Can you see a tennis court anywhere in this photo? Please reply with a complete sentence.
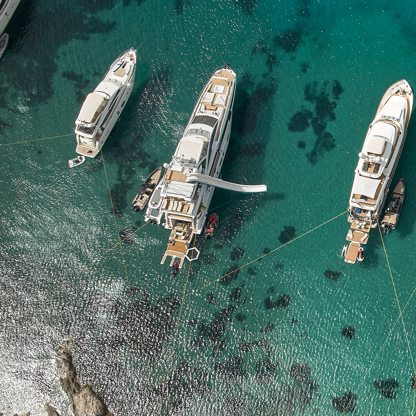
No, I can't see a single tennis court in this photo.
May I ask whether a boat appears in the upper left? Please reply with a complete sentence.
Yes, a boat appears in the upper left.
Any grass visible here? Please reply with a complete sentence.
Yes, there is grass in the image.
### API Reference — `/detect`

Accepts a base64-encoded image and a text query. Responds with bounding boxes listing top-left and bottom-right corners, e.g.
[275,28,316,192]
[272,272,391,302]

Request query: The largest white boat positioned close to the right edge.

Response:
[347,79,412,233]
